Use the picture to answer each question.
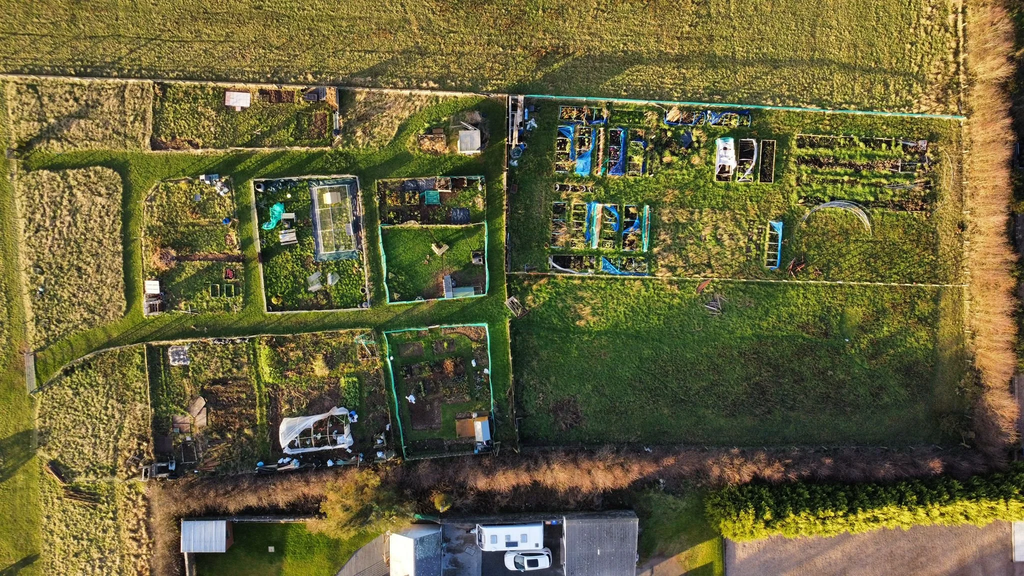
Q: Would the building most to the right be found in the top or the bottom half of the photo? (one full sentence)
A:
The building most to the right is in the bottom half of the image.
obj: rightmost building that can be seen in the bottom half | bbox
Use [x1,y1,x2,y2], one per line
[562,500,641,575]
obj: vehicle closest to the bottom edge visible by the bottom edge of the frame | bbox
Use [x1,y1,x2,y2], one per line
[505,547,550,573]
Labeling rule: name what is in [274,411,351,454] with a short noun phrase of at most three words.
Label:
greenhouse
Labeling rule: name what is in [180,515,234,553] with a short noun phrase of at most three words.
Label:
shed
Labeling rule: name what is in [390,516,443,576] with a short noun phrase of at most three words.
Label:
shed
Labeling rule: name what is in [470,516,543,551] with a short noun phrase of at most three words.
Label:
camper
